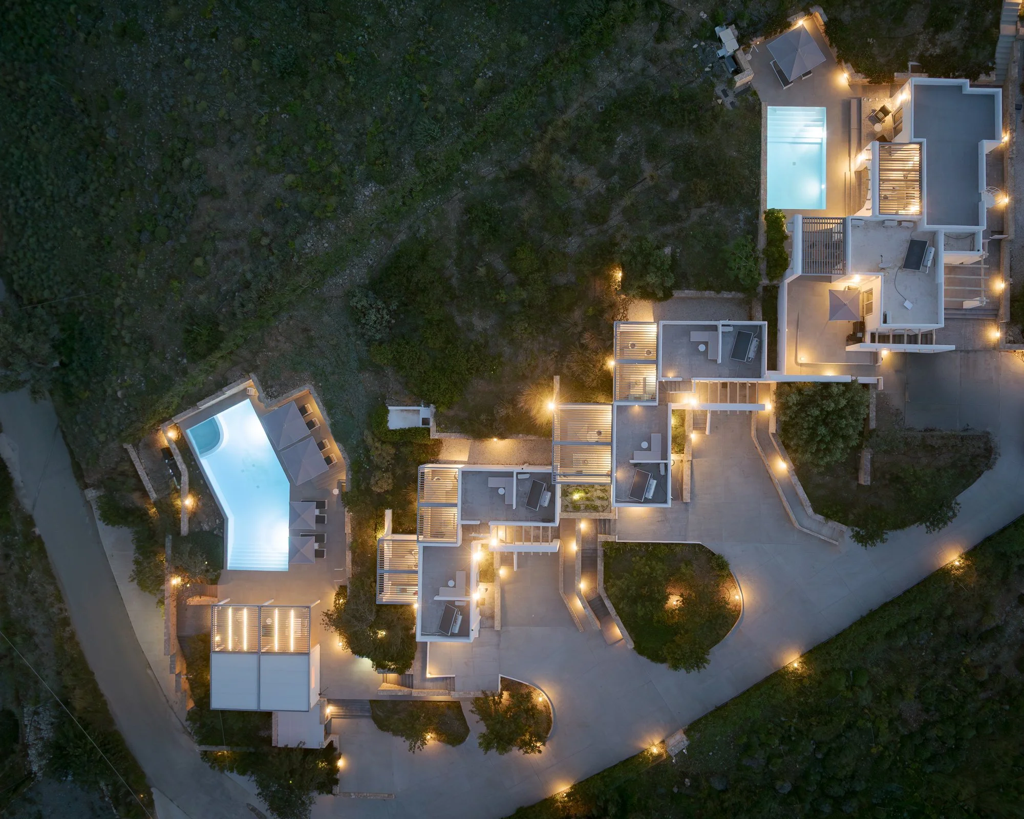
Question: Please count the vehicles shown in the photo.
none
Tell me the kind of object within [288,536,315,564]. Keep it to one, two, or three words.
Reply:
umbrella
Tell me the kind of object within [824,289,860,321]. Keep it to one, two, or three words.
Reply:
umbrella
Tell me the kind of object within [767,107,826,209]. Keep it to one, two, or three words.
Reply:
swimming pool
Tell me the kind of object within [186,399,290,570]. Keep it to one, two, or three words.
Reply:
swimming pool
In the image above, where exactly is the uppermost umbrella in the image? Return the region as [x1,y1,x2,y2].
[766,24,826,82]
